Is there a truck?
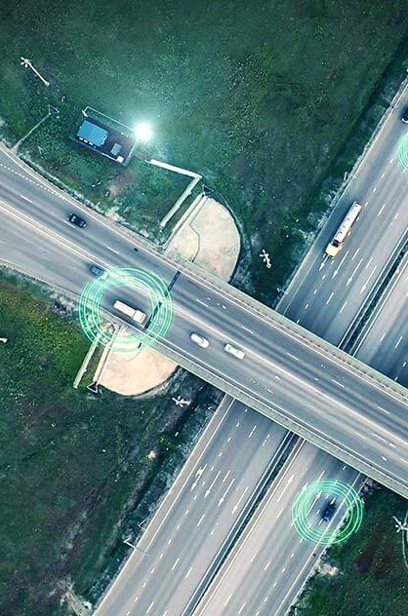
Yes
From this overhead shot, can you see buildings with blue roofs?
Yes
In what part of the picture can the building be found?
top left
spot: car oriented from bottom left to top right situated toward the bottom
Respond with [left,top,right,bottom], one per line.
[320,499,336,521]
